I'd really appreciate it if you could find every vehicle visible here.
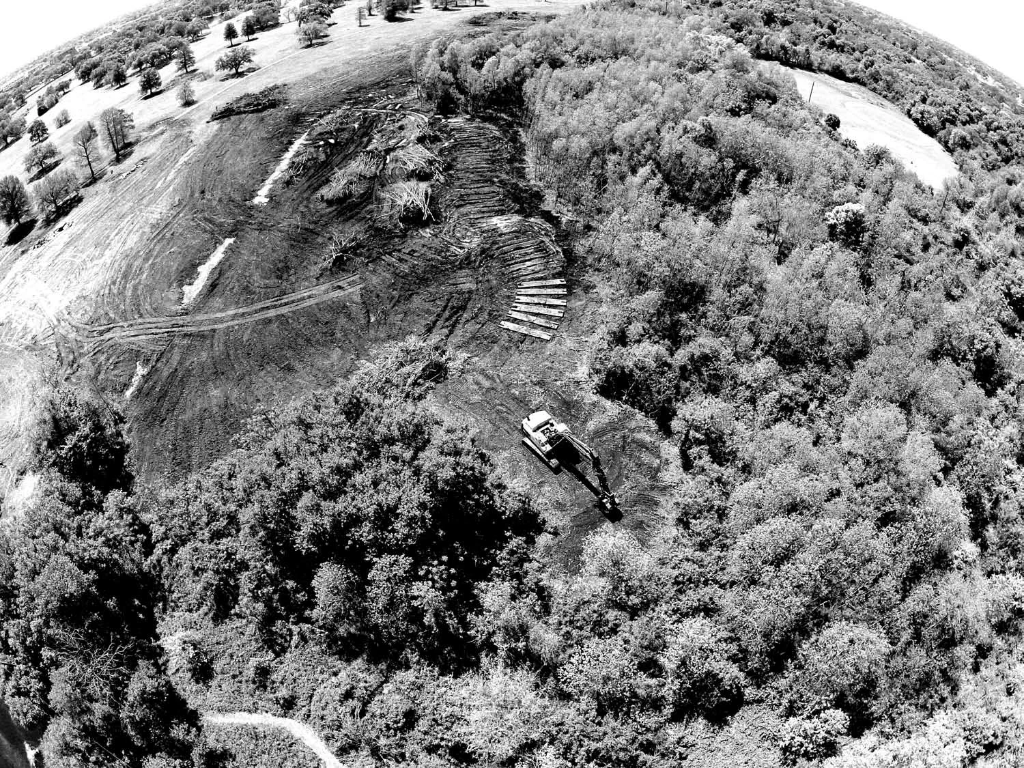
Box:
[520,414,615,516]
